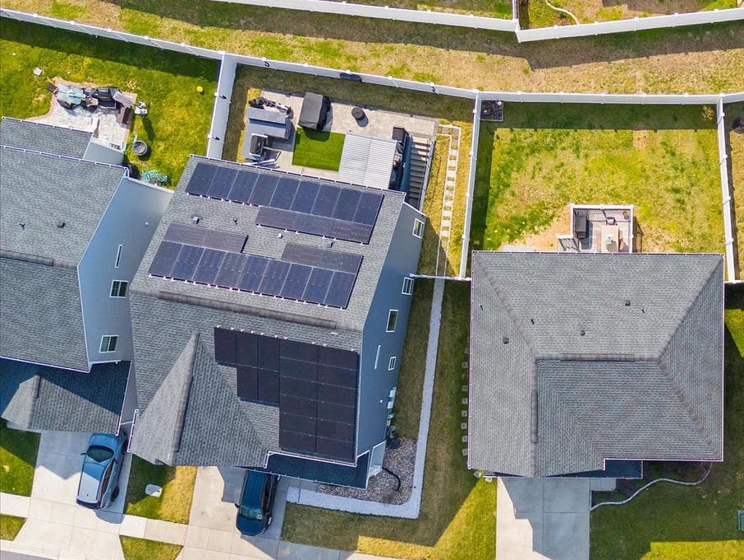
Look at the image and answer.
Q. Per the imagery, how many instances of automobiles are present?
two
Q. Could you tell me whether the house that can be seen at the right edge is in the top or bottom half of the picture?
bottom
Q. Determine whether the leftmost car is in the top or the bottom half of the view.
bottom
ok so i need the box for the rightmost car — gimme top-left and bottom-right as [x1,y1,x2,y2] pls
[233,470,280,536]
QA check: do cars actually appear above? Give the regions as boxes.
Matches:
[233,470,280,536]
[74,433,127,514]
